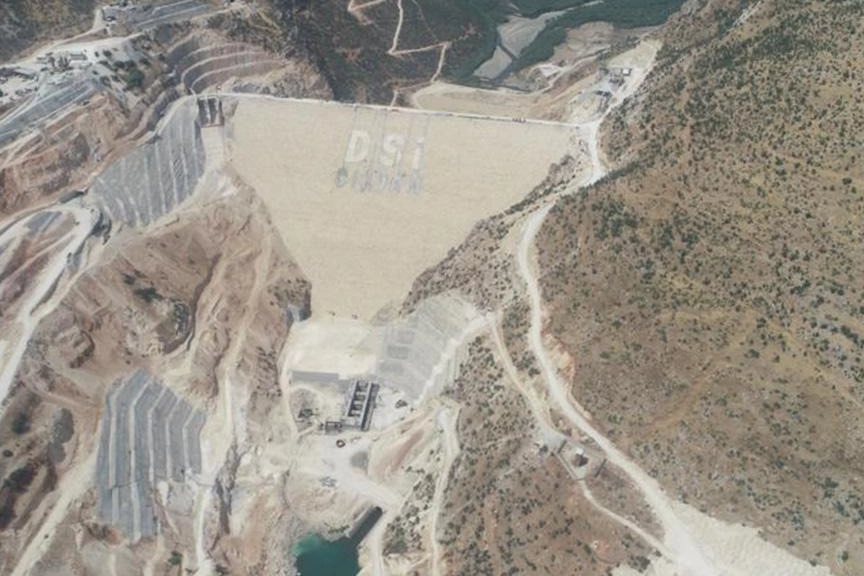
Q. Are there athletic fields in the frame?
No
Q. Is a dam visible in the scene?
Yes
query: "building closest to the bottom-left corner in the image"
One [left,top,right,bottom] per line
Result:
[342,380,377,441]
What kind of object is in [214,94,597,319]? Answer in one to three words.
dam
